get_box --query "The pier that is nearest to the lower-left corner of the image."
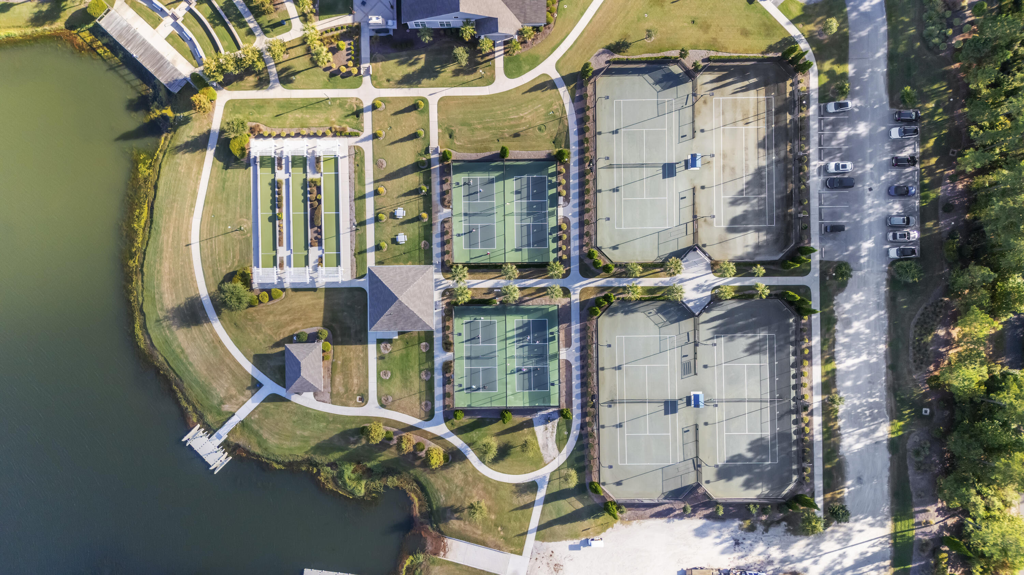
[182,426,233,474]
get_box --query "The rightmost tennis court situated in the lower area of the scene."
[697,300,797,498]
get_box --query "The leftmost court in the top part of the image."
[452,160,505,263]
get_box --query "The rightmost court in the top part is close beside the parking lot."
[693,62,794,260]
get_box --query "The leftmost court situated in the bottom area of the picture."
[454,306,507,408]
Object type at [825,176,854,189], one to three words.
vehicle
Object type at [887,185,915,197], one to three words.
vehicle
